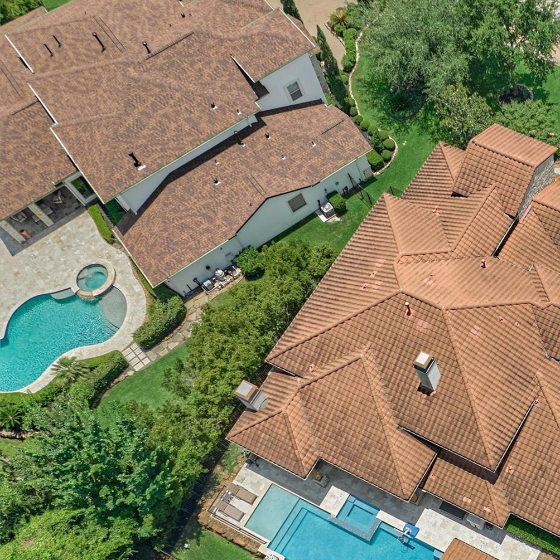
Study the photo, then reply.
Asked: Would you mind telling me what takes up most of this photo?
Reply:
buildings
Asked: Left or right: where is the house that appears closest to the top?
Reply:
left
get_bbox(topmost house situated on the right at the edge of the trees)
[222,122,560,538]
